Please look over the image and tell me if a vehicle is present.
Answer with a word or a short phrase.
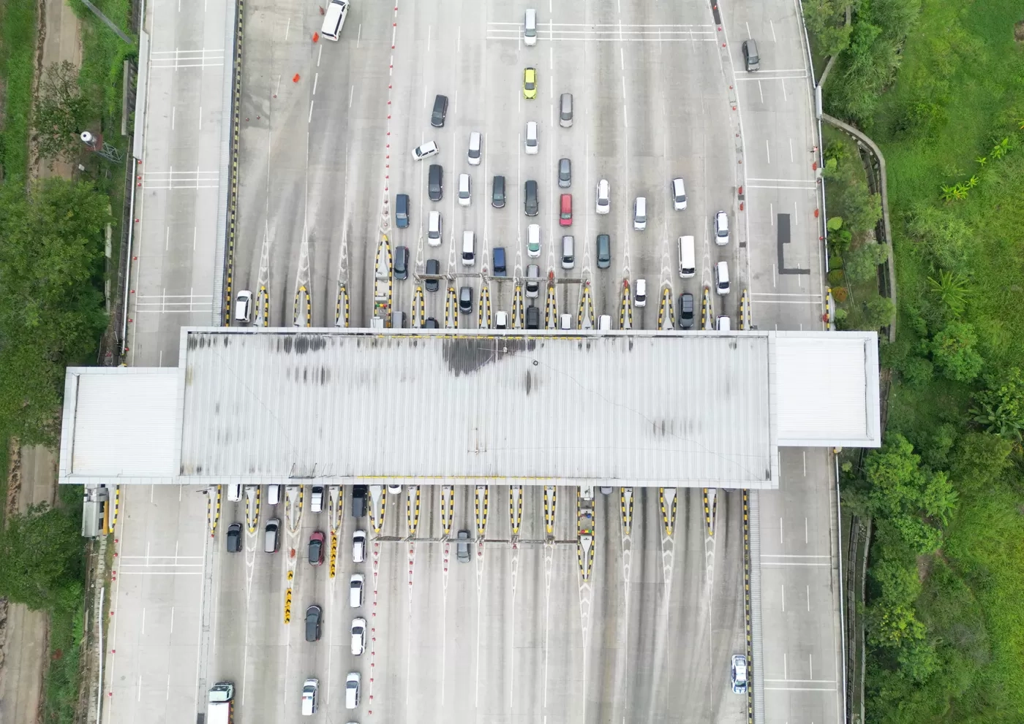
Yes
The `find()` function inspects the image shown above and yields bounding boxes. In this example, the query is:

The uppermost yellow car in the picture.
[522,69,537,99]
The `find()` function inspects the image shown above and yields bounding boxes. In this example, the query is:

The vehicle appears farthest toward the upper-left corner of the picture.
[323,0,347,38]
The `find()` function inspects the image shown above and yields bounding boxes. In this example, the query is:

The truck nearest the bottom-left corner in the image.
[206,682,232,724]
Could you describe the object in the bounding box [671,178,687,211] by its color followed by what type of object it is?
white car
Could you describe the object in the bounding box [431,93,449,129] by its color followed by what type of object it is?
gray car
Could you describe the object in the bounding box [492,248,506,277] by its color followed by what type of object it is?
blue vehicle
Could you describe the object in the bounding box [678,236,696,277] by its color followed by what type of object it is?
white vehicle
